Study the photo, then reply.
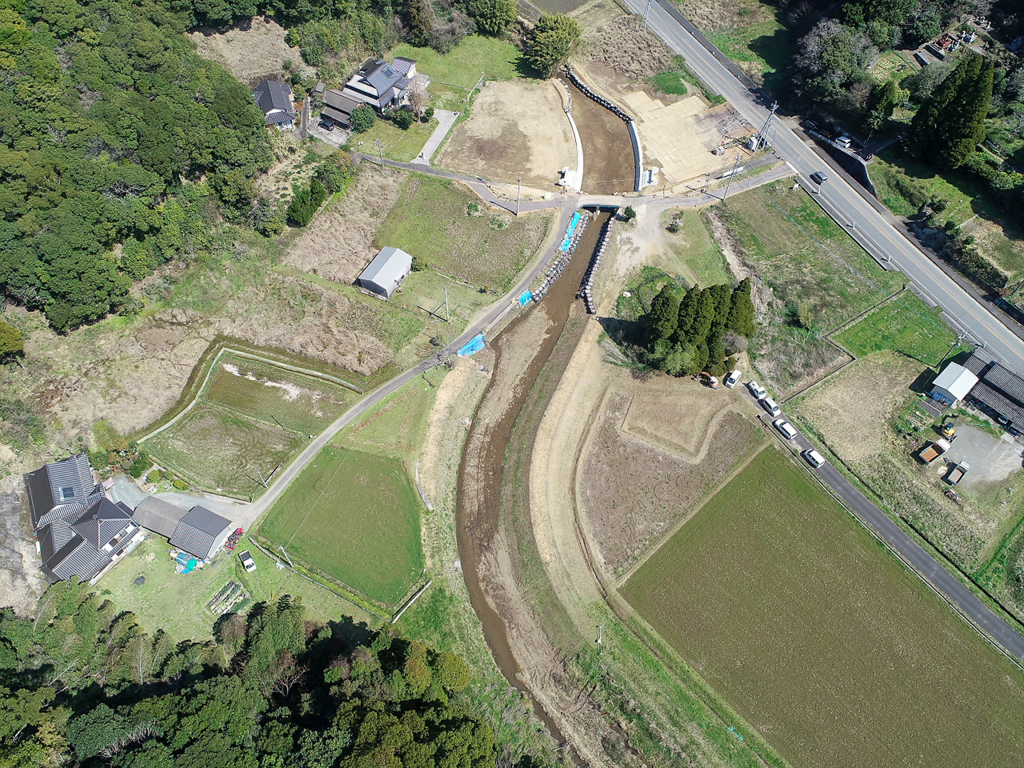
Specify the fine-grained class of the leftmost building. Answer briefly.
house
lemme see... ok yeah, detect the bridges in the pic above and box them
[577,194,631,218]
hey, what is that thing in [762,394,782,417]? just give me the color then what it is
white vehicle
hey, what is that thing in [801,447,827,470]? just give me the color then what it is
white vehicle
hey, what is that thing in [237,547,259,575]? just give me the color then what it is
white truck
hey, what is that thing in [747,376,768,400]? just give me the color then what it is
white truck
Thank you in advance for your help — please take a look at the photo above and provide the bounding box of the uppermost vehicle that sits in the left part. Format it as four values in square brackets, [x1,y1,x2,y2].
[317,120,335,132]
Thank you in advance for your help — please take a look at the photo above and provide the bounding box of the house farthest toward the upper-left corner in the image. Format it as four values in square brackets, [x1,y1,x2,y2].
[256,76,297,132]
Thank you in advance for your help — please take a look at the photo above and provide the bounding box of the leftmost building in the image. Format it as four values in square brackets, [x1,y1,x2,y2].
[23,451,145,584]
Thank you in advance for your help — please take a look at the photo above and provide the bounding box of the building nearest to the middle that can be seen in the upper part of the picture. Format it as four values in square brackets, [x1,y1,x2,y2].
[358,247,412,299]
